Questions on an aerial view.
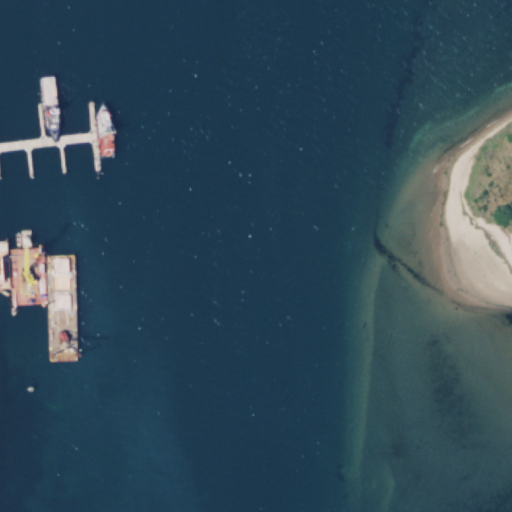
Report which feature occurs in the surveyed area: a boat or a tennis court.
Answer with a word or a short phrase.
boat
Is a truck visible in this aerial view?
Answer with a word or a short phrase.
No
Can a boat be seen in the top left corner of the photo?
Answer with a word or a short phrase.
Yes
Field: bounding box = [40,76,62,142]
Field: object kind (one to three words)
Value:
boat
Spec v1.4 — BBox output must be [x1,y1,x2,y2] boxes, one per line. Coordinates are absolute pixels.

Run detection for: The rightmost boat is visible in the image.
[94,104,117,164]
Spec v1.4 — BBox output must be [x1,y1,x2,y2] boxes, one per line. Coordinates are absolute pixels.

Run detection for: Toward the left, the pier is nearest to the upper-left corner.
[0,102,100,178]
